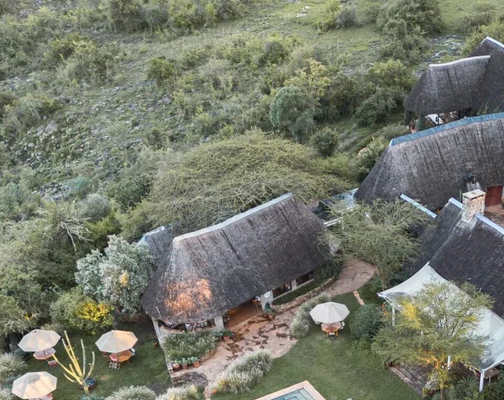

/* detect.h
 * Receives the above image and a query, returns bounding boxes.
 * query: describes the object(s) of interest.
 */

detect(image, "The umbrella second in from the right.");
[97,334,139,363]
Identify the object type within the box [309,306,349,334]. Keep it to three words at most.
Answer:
umbrella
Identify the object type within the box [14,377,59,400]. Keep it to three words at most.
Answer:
umbrella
